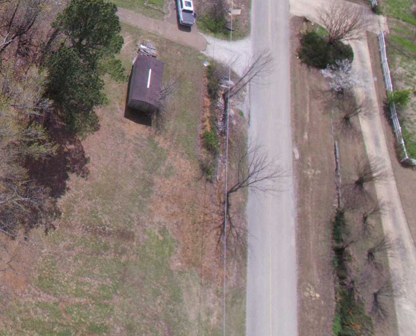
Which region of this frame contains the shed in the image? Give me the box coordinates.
[124,54,165,119]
